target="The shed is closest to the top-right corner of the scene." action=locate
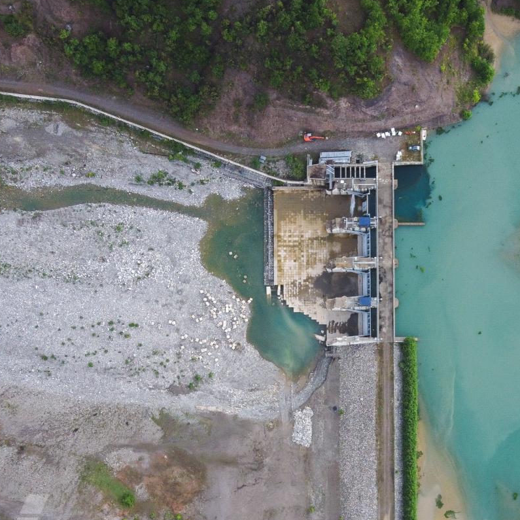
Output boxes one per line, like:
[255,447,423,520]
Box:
[319,151,352,166]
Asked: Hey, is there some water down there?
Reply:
Yes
